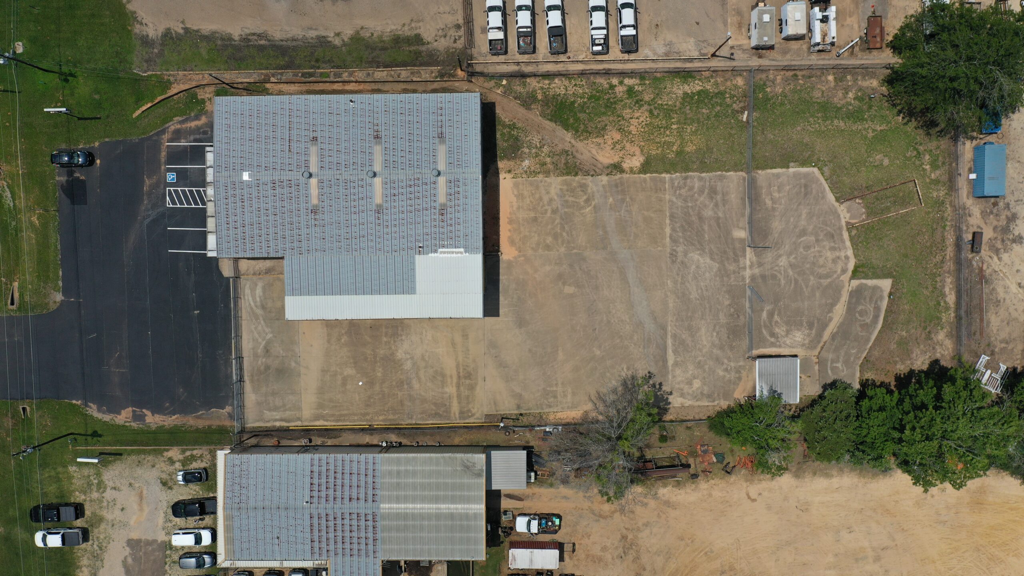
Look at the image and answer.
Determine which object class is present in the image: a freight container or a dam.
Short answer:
freight container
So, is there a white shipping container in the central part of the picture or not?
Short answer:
No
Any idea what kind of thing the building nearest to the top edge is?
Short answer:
warehouse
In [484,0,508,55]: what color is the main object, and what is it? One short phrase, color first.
white truck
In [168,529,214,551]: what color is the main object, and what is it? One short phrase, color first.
white car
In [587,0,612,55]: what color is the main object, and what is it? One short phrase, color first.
white truck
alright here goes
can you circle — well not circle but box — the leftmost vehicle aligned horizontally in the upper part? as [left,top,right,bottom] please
[47,148,89,168]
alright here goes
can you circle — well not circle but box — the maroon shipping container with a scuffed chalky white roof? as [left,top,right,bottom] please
[509,541,559,569]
